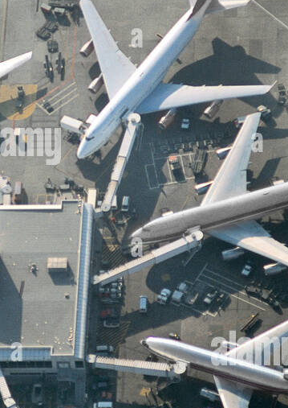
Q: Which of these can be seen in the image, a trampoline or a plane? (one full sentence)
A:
Of the two, only a plane appears.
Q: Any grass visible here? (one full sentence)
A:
No, the picture contains no grass.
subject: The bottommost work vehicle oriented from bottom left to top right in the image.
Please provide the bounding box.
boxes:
[241,313,260,333]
